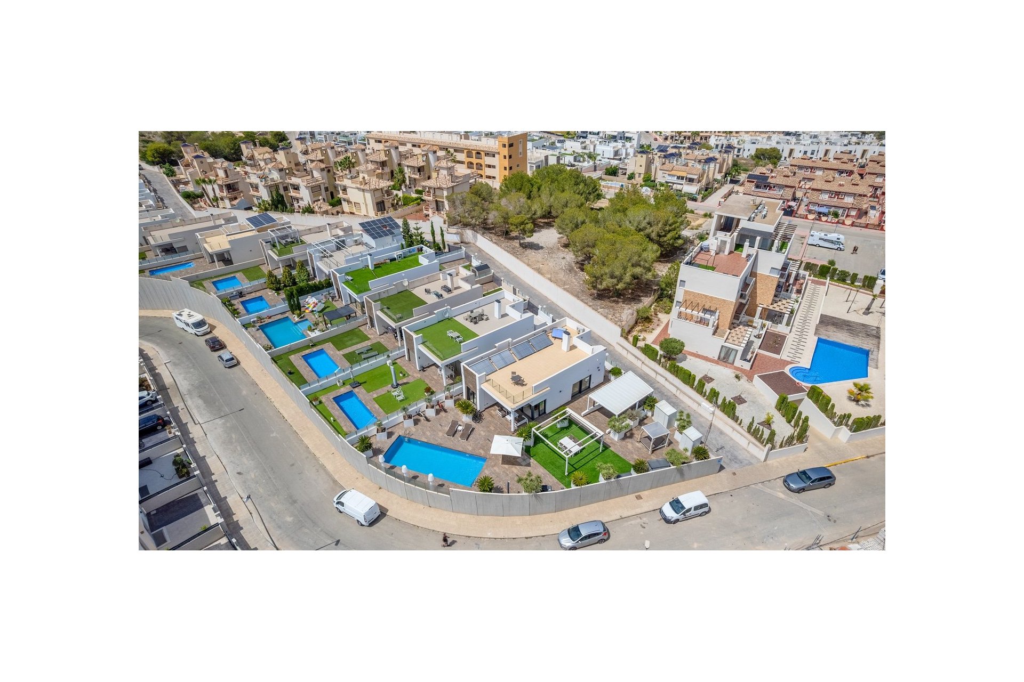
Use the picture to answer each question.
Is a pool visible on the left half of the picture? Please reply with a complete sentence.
Yes, you'll find a pool on the left half of the picture.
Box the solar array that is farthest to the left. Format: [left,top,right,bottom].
[243,215,282,235]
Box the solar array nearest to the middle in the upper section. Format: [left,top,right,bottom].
[349,215,415,243]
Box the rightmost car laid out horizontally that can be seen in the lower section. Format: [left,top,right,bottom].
[784,463,840,490]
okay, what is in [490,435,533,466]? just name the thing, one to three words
umbrella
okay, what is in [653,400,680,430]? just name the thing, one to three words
shed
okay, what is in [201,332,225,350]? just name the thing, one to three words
car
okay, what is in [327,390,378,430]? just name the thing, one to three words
swimming pool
